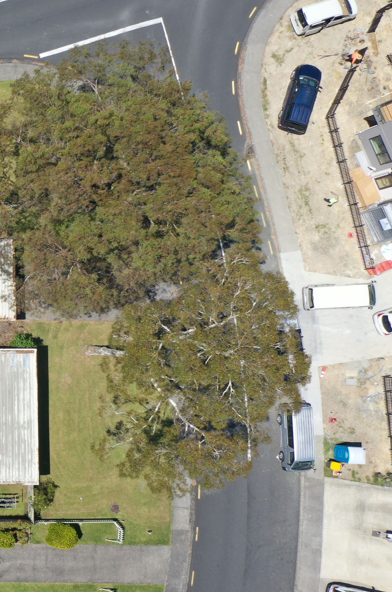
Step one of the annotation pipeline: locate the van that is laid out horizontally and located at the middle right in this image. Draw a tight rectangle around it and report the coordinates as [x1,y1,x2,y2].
[304,279,379,310]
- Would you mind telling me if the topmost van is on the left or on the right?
right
